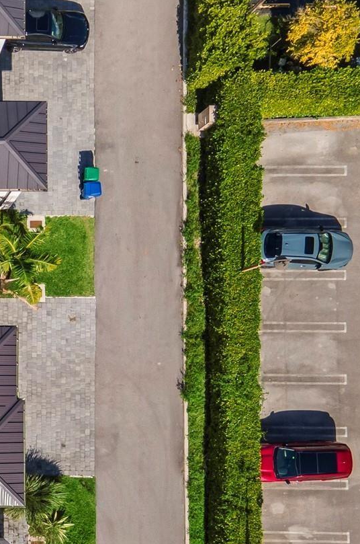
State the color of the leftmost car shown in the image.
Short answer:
black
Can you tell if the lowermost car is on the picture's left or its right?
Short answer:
right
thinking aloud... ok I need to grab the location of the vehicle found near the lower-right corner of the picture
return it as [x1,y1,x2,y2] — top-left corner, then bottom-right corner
[261,439,351,486]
